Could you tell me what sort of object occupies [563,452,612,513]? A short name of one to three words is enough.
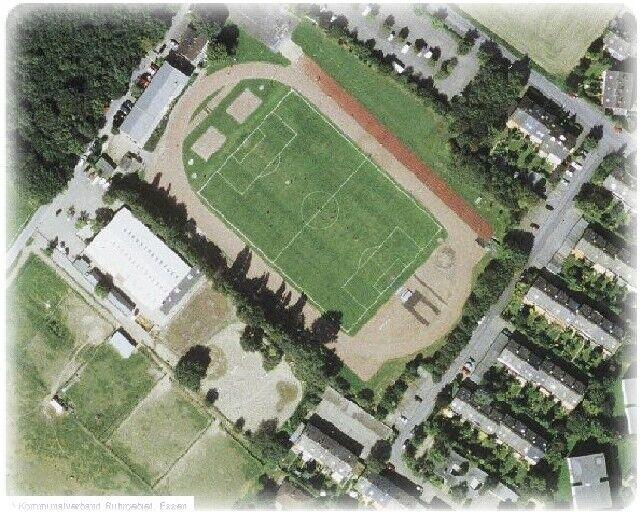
building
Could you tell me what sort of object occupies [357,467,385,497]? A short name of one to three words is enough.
house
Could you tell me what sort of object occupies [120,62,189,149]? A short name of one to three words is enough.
shed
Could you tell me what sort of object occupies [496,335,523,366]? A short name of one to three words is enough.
house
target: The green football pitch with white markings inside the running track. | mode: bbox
[182,78,451,339]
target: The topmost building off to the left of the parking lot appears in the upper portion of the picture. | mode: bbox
[176,28,207,61]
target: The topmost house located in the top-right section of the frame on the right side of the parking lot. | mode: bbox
[602,31,636,62]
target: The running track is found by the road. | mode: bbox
[154,53,494,381]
